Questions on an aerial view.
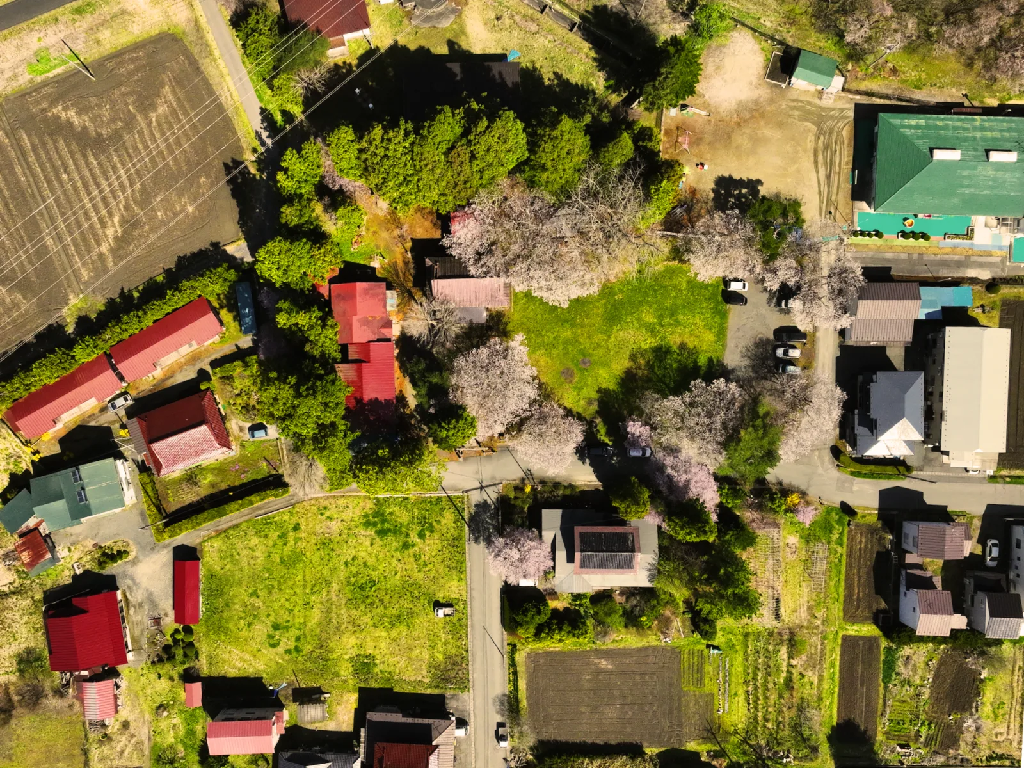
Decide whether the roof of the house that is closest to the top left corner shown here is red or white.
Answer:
red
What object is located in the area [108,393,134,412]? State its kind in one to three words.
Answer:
car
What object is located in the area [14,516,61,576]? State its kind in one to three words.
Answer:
shed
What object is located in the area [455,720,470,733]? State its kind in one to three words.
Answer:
vehicle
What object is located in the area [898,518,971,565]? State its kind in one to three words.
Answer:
house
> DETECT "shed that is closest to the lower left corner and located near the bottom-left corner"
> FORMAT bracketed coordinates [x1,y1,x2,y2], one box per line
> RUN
[73,676,123,720]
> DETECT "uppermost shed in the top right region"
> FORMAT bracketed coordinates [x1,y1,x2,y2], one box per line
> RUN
[788,50,845,95]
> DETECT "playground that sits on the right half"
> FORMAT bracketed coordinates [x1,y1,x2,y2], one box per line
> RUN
[661,26,857,276]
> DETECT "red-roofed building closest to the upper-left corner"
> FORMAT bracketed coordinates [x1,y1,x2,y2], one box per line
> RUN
[282,0,371,58]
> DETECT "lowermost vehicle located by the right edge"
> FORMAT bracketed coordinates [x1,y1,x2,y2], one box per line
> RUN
[983,539,998,565]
